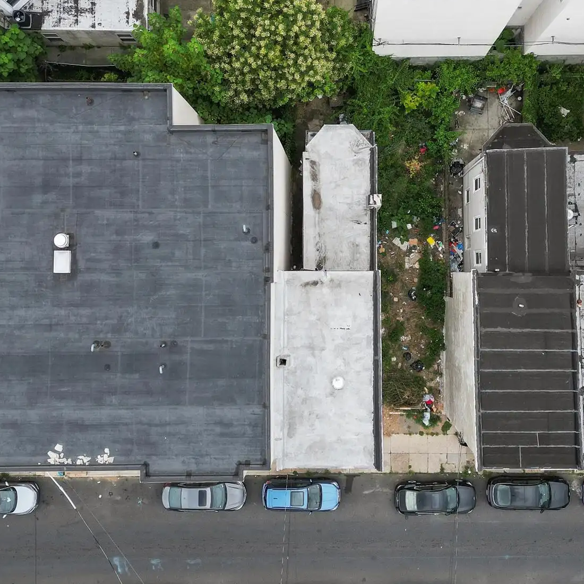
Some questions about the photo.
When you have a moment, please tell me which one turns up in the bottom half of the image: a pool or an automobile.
automobile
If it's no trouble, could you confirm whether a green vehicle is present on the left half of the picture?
No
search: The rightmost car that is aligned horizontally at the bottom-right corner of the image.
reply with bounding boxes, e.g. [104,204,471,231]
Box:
[485,475,570,515]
